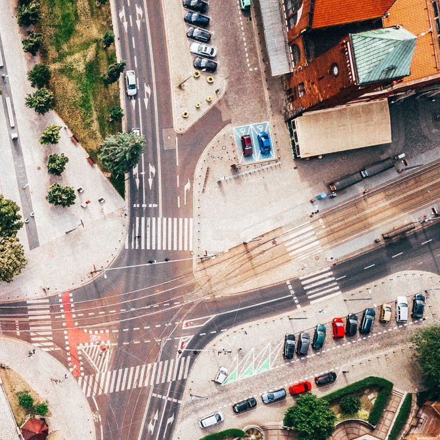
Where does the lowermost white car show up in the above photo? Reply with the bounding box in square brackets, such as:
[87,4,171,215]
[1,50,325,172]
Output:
[200,412,225,429]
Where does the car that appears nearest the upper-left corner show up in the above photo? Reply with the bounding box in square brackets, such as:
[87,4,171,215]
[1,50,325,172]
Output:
[126,68,139,95]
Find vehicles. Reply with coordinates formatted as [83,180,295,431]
[243,0,254,12]
[185,0,208,11]
[258,130,272,153]
[346,313,362,336]
[262,389,289,404]
[412,293,429,319]
[361,308,378,334]
[131,127,143,146]
[189,26,212,41]
[333,316,347,339]
[126,68,139,95]
[235,398,258,414]
[215,366,229,385]
[243,133,255,154]
[316,372,339,386]
[285,333,299,358]
[298,333,313,355]
[313,323,330,350]
[397,296,414,322]
[200,412,225,429]
[382,302,394,323]
[185,10,212,25]
[194,56,218,71]
[290,380,314,395]
[191,42,217,56]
